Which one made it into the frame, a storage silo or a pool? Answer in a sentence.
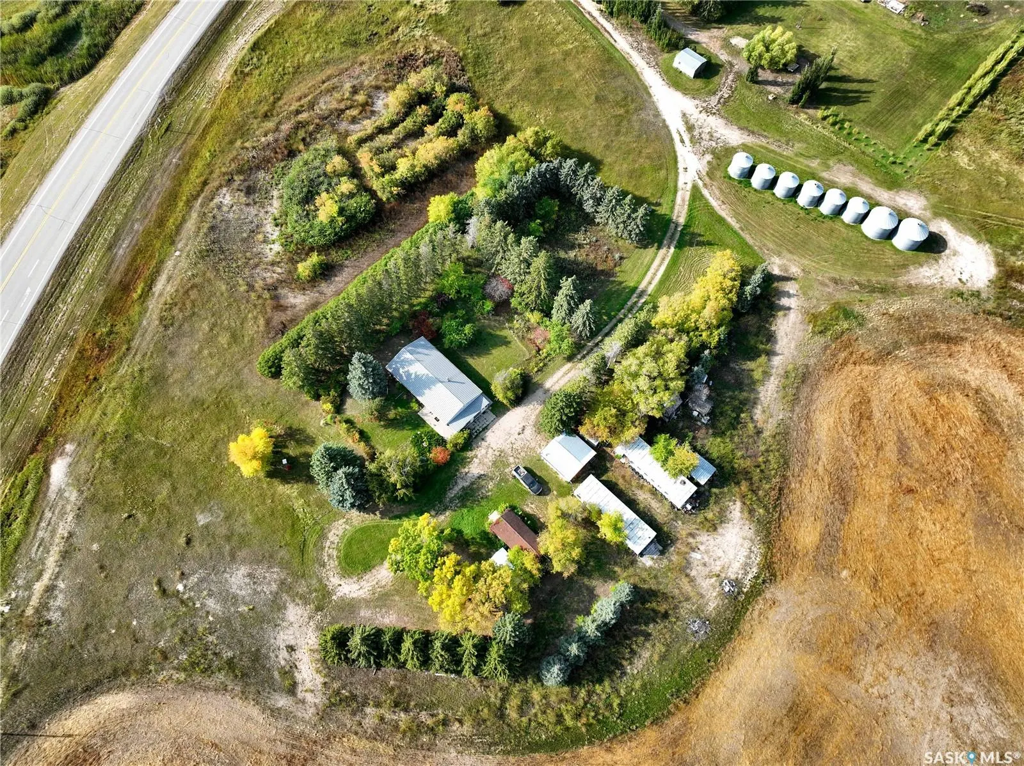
Looking from above, you can make out a storage silo.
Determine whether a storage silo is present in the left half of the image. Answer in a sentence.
No, there is no storage silo in the left half of the image.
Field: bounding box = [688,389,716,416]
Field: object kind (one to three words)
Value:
shed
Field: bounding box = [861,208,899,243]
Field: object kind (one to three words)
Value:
silo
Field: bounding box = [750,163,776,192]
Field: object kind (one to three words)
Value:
silo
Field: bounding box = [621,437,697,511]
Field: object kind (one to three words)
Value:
house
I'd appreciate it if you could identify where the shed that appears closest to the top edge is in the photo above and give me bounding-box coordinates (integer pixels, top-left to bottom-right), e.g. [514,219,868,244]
[673,46,709,78]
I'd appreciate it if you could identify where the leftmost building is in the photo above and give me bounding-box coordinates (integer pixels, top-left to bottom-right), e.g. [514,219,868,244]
[385,337,491,435]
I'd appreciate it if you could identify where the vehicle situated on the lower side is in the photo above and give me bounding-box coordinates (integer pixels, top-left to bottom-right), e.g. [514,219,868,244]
[509,462,545,499]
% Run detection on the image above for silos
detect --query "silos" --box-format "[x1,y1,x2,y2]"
[795,179,824,209]
[772,172,800,200]
[840,196,870,225]
[889,218,930,255]
[818,188,847,217]
[861,208,899,243]
[750,163,776,192]
[727,151,753,180]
